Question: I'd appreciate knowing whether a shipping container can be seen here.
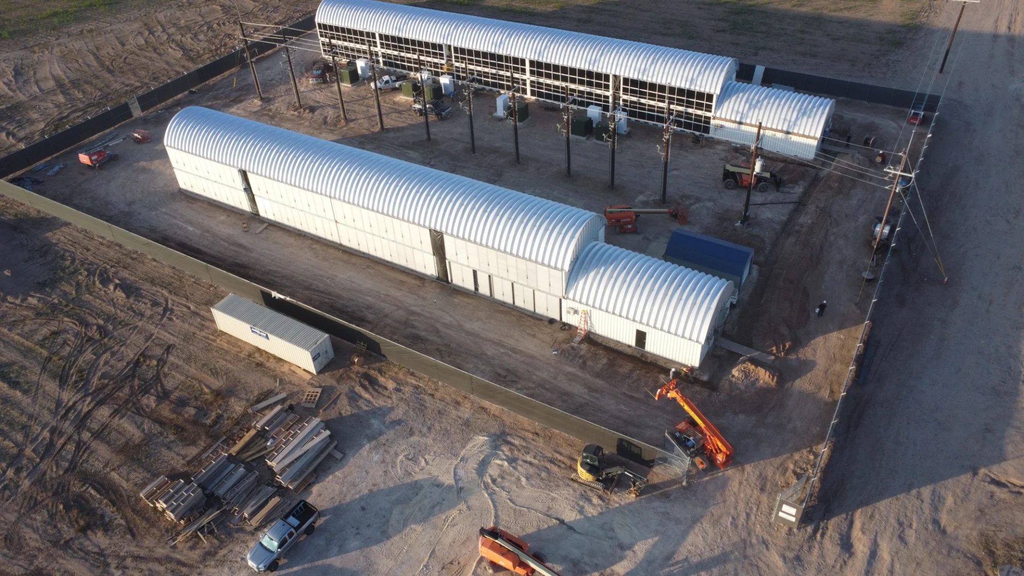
Yes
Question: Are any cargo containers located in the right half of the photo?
No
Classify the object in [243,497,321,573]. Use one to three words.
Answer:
truck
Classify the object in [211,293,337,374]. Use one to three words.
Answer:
shipping container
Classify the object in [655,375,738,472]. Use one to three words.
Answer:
work vehicle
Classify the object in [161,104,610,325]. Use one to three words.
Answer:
building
